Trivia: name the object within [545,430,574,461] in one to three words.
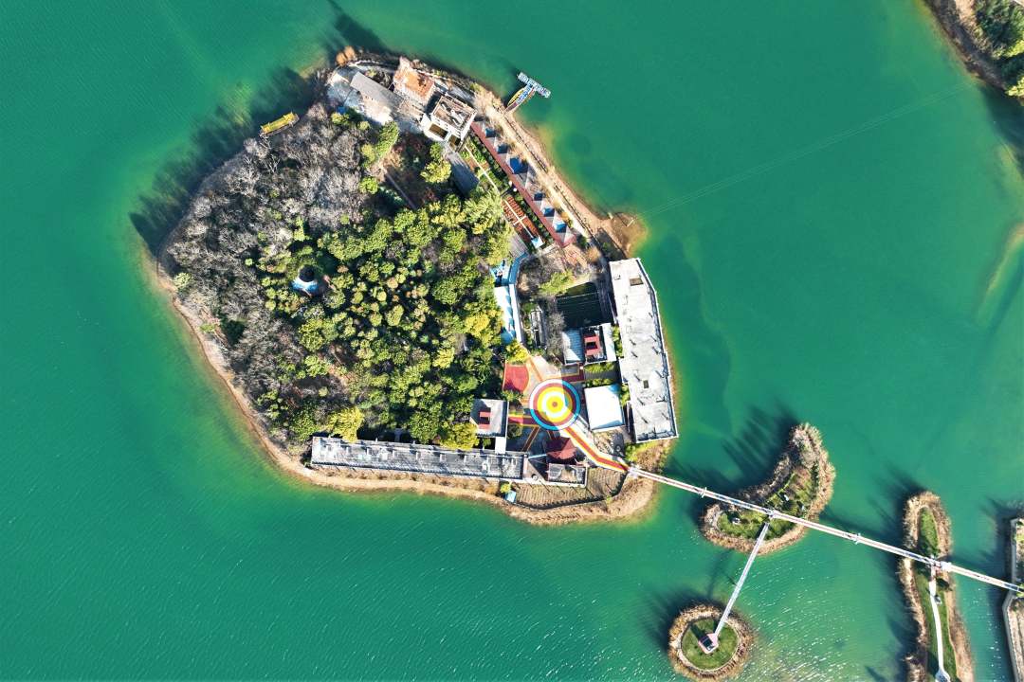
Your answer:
building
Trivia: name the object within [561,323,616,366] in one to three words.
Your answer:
house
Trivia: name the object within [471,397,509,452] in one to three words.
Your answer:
house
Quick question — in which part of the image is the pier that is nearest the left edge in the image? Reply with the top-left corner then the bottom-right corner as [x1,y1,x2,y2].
[503,70,551,114]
